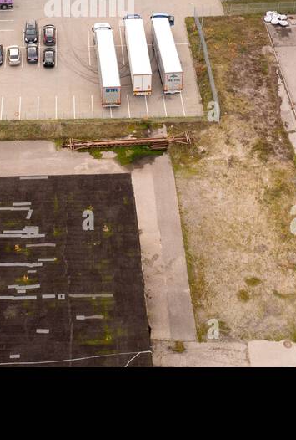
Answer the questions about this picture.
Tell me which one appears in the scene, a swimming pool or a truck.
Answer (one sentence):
I can see a truck in this picture.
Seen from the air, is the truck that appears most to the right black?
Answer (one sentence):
No, from above the truck that appears most to the right looks white.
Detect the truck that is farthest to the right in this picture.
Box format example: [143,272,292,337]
[147,13,184,92]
